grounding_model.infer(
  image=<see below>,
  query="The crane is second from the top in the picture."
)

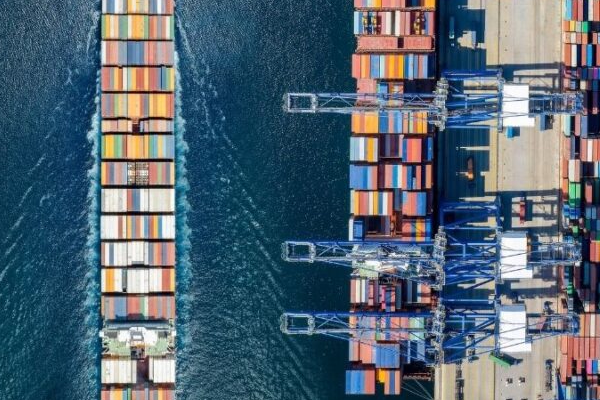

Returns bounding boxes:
[285,222,581,284]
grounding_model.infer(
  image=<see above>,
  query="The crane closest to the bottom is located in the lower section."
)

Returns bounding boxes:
[285,294,581,356]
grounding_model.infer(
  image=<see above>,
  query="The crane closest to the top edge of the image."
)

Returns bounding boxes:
[286,71,583,133]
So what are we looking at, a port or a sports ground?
port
